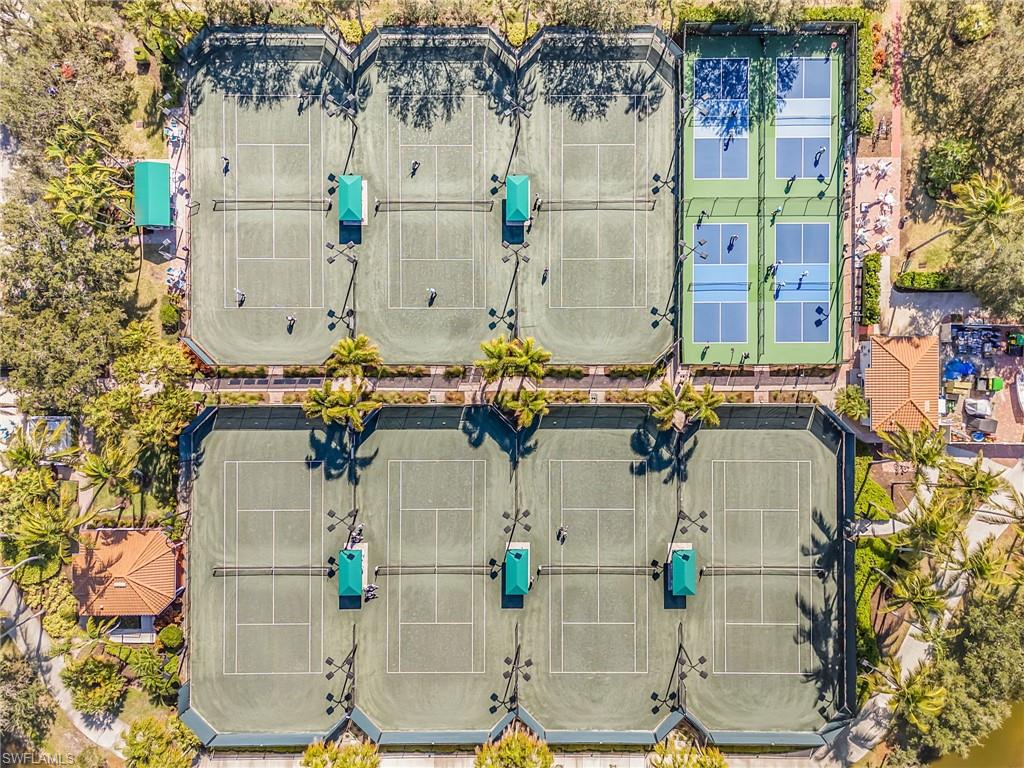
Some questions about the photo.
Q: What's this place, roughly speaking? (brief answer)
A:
sports ground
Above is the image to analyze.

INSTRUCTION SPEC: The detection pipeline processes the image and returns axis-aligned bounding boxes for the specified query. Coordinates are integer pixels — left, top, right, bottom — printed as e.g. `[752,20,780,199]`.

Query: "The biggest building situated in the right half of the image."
[862,335,940,432]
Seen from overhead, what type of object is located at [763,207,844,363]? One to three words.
sports court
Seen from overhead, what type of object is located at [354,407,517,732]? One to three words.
tennis court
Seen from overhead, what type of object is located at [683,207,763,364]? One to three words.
sports court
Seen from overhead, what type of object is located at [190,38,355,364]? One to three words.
tennis court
